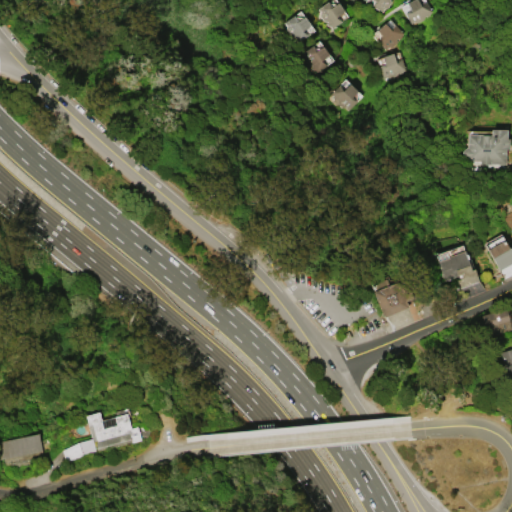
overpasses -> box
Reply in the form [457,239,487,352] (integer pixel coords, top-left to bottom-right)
[186,416,412,454]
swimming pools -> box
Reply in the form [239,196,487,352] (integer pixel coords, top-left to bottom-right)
[72,424,91,440]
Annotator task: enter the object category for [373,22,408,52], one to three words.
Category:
house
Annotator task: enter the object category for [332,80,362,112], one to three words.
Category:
house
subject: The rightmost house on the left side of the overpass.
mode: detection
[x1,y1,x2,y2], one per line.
[64,412,142,460]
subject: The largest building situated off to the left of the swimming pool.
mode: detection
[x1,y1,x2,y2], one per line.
[1,434,43,466]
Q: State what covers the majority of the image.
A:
trees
